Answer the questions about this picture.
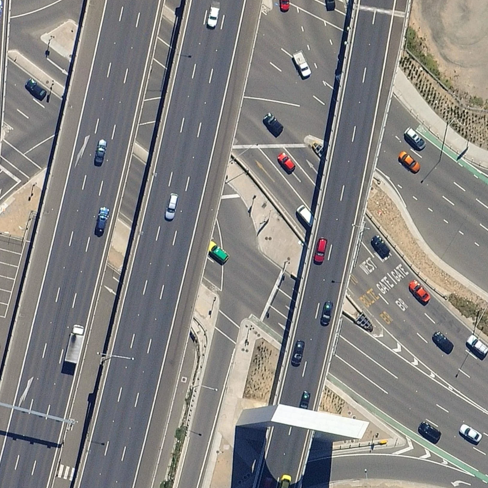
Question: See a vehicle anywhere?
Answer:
Yes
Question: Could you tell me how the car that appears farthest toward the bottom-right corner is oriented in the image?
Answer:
on a diagonal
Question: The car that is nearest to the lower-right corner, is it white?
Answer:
Yes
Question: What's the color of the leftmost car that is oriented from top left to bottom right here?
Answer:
black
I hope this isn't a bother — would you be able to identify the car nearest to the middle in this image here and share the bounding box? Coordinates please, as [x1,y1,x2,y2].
[209,241,231,264]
